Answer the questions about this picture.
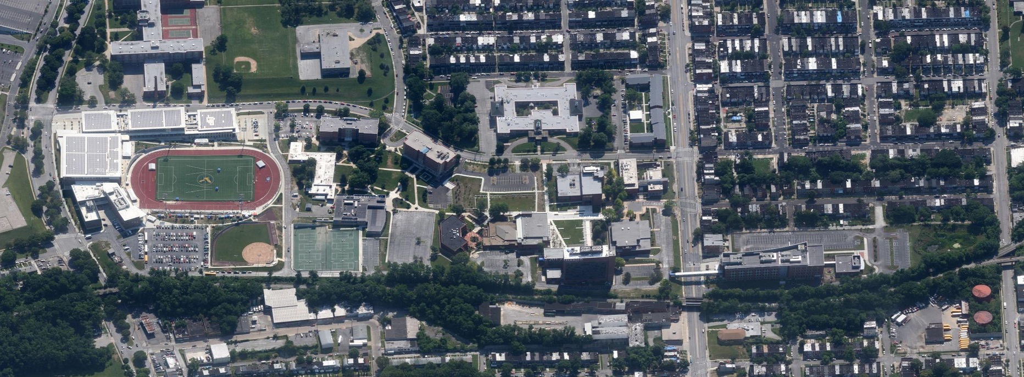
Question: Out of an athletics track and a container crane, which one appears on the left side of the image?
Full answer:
It is an athletics track that can be seen on the left side of the image.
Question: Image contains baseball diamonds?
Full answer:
Yes, a baseball diamond is visible in the scene.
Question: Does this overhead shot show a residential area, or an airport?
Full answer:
This image shows a residential area.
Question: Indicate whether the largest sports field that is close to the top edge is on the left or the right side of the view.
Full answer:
The largest sports field that is close to the top edge sits on the left side.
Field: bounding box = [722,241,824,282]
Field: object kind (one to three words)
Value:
building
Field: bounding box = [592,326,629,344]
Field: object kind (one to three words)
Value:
shed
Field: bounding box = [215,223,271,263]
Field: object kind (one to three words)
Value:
baseball field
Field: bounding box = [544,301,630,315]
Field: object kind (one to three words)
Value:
building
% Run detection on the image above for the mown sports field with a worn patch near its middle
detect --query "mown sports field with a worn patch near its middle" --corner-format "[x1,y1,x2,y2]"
[220,6,297,79]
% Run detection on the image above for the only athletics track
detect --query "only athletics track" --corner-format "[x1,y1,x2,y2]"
[130,148,281,211]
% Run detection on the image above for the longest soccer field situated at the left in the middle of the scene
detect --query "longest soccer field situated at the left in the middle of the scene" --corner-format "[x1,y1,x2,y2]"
[156,155,255,201]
